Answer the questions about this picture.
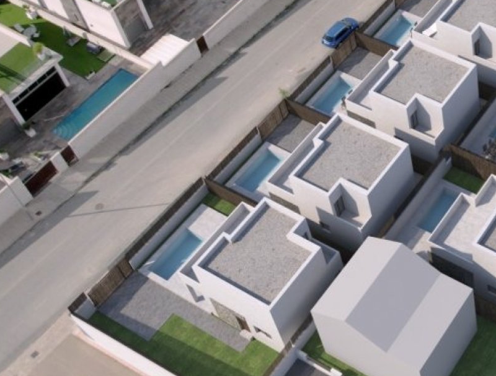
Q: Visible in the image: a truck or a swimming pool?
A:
swimming pool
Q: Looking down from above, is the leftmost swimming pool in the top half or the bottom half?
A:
top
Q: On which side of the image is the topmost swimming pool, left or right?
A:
right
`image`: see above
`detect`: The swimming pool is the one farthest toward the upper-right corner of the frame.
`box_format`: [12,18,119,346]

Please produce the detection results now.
[374,10,423,49]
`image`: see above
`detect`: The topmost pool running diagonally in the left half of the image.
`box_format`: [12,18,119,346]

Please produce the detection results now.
[48,67,142,142]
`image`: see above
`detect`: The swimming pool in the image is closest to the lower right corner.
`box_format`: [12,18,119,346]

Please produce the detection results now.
[403,197,454,258]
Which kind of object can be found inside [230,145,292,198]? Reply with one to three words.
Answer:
swimming pool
